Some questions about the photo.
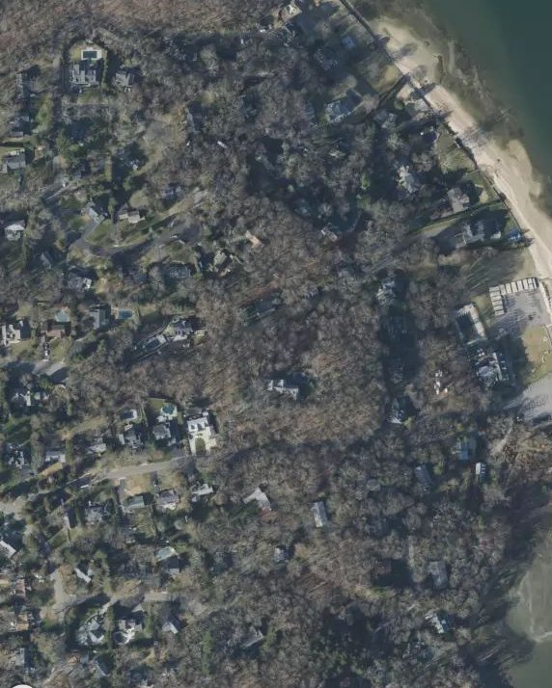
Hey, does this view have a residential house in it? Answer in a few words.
Yes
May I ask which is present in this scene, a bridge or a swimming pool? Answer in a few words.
swimming pool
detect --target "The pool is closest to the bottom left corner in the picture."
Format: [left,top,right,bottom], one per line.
[118,407,135,421]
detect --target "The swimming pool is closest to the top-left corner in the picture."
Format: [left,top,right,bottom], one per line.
[80,49,98,61]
